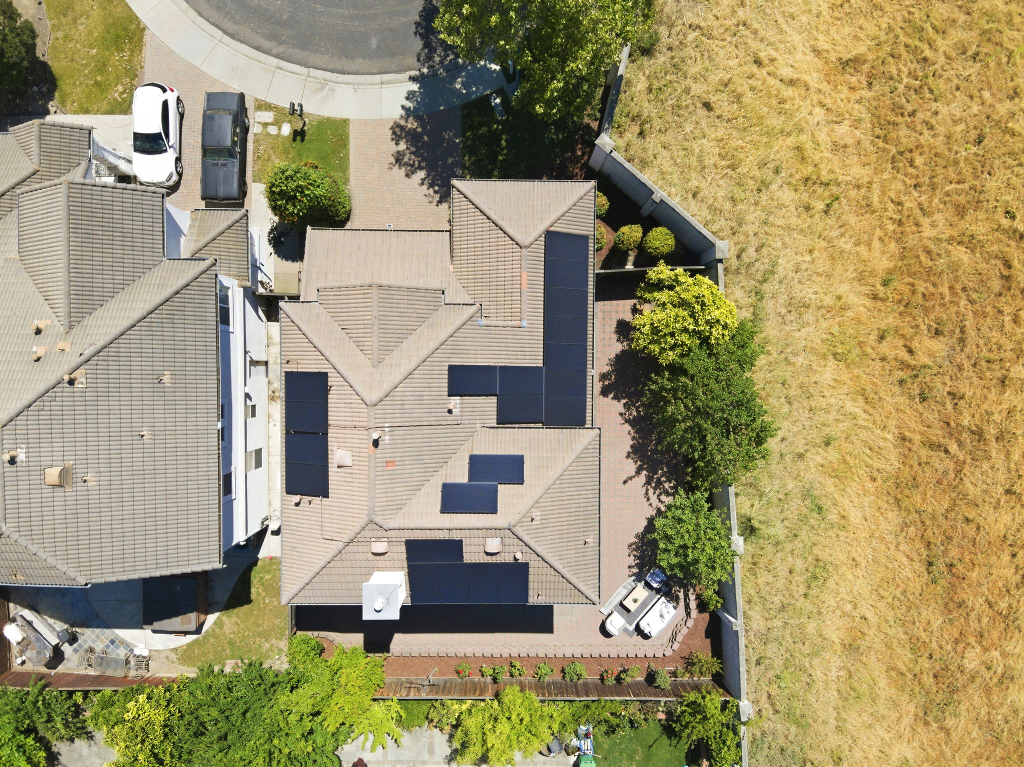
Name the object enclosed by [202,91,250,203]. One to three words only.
car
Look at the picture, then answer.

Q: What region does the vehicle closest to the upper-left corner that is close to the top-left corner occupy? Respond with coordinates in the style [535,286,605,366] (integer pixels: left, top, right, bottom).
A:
[129,84,188,190]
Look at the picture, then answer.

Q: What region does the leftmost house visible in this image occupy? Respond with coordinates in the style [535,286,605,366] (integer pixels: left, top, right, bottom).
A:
[0,121,272,587]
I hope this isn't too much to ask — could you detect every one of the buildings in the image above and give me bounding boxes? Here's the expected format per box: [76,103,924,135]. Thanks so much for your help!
[279,180,601,619]
[0,121,272,587]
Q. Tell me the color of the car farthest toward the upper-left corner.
white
